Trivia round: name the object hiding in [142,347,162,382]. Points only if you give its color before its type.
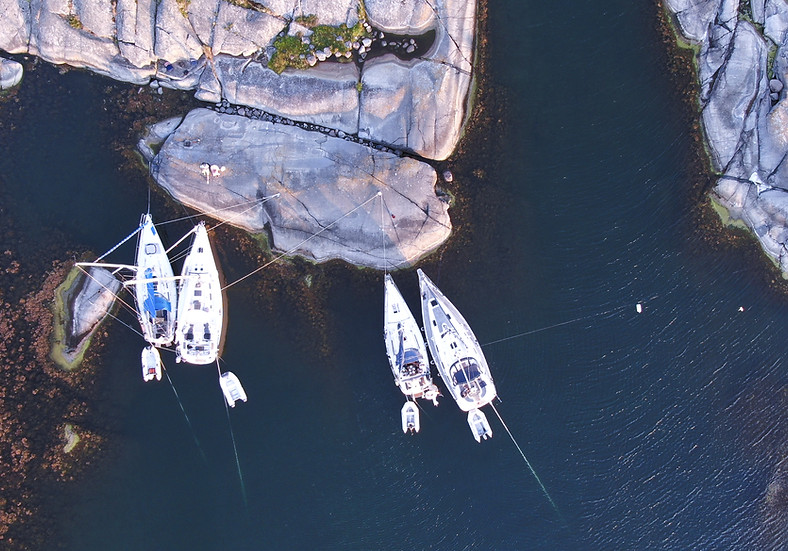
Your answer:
white boat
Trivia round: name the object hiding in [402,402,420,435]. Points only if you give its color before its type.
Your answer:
white boat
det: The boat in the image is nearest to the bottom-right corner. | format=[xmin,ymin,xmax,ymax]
[469,411,492,444]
